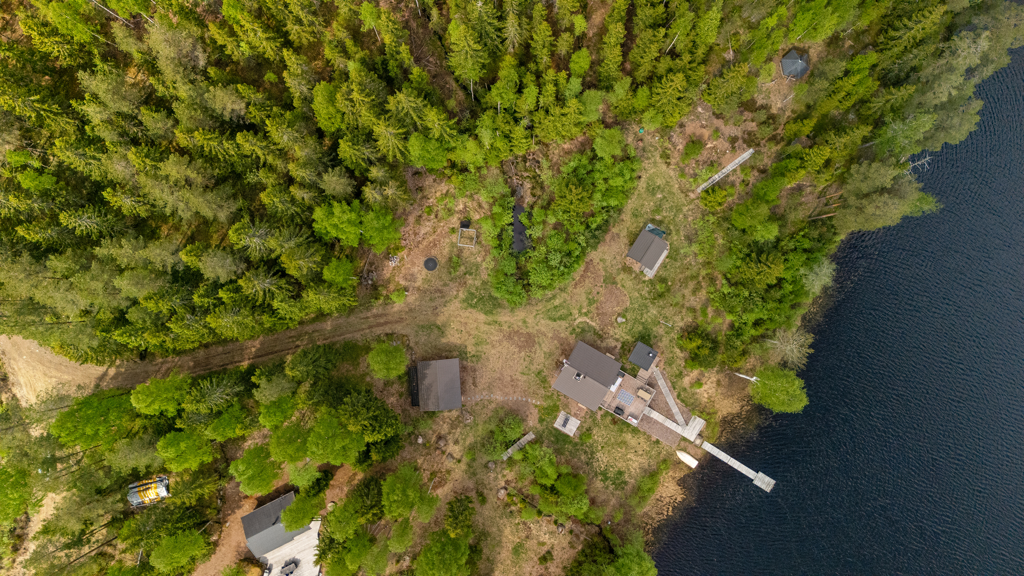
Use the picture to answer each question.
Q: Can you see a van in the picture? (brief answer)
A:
No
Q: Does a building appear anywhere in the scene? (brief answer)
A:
Yes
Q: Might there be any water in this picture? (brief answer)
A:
Yes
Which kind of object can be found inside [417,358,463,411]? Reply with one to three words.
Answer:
shed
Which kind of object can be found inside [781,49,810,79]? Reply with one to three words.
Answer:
shed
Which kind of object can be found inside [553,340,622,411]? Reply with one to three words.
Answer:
building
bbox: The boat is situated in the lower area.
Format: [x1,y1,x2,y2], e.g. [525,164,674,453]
[676,450,698,468]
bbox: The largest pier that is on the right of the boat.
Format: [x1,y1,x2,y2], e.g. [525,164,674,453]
[701,441,776,492]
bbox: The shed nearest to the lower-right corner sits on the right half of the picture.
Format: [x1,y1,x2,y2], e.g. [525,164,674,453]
[627,341,658,371]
